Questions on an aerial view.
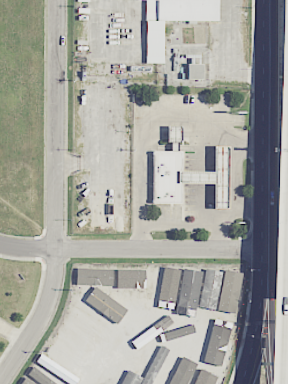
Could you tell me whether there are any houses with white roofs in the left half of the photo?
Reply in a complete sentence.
Yes, a house with a white roof appears in the left half of the photo.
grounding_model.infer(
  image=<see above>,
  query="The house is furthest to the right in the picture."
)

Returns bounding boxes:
[219,270,244,314]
